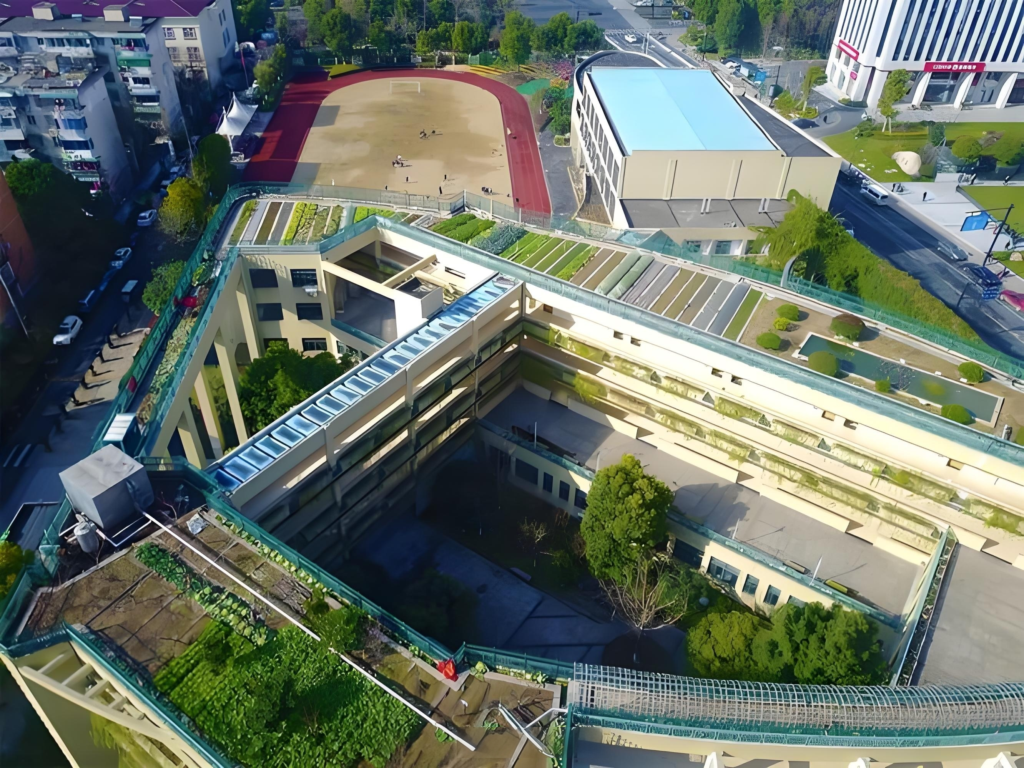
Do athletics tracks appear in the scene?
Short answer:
Yes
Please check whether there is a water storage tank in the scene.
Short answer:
Yes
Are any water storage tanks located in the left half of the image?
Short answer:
Yes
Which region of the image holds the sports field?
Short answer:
top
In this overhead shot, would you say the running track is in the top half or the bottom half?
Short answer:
top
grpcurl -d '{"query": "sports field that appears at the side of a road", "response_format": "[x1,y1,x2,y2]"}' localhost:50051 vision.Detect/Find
[290,77,516,224]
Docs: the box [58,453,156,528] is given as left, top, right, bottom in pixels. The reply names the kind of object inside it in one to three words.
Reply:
water tank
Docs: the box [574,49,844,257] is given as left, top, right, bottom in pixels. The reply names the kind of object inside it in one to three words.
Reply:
building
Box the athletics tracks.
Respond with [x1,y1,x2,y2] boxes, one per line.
[237,68,554,232]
